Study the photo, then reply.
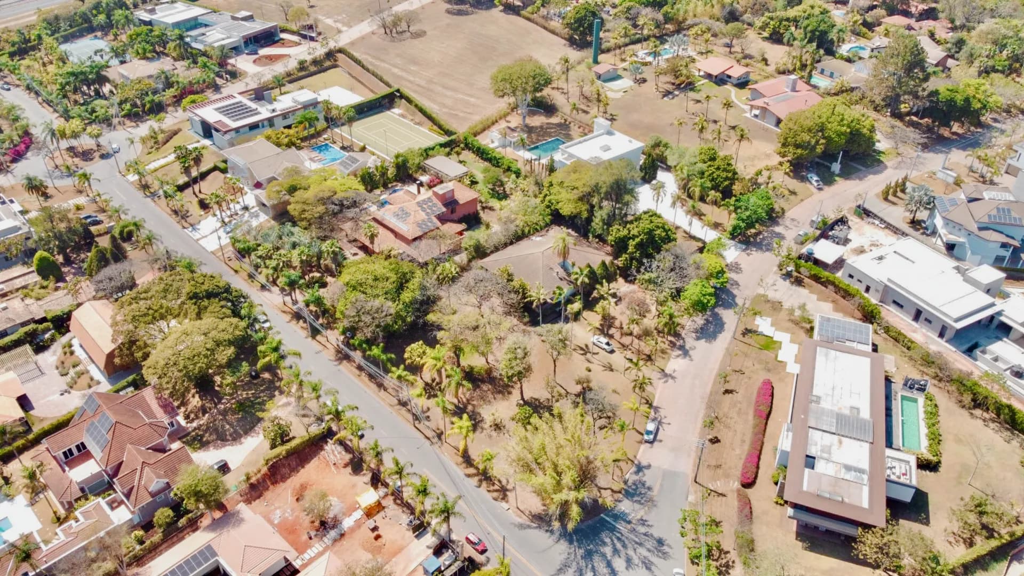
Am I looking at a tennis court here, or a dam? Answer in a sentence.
Looking from above, you can make out a tennis court.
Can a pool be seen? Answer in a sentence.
Yes, there's a pool here.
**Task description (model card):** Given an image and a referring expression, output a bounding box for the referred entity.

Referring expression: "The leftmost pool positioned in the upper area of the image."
[308,140,350,167]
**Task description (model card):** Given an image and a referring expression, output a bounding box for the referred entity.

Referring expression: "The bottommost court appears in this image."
[336,111,453,166]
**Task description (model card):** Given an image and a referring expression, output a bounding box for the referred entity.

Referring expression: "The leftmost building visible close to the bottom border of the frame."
[0,386,195,576]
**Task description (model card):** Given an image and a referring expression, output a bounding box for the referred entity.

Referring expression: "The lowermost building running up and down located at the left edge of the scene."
[0,371,28,432]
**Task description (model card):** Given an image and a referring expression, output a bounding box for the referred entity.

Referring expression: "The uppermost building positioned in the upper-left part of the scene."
[135,2,281,58]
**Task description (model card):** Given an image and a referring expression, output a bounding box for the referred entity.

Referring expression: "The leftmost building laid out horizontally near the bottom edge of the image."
[128,502,299,576]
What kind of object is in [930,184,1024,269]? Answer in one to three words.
house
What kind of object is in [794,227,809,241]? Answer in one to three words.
car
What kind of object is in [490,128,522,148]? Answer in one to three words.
gazebo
